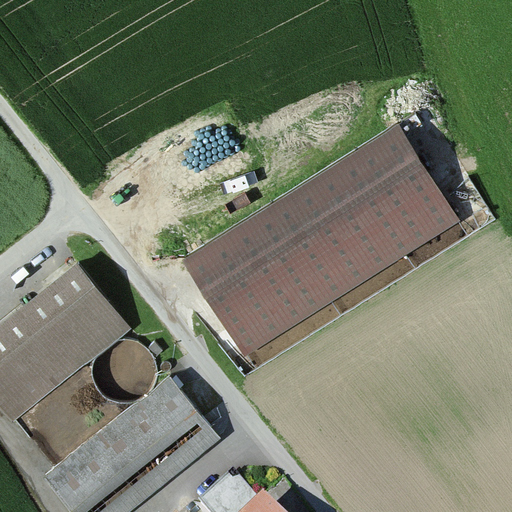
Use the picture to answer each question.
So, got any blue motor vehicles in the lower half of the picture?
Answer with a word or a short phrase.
Yes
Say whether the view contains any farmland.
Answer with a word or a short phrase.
Yes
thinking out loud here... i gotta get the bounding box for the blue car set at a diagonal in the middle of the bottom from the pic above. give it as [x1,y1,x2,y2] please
[196,475,216,494]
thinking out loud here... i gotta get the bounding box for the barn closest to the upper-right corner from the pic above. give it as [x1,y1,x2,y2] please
[184,123,459,354]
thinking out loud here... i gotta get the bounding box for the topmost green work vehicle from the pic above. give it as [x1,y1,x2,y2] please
[110,184,133,205]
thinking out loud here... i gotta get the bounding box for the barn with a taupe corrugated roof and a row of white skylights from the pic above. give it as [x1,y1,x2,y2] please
[0,262,133,420]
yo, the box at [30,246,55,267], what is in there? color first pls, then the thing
white vehicle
